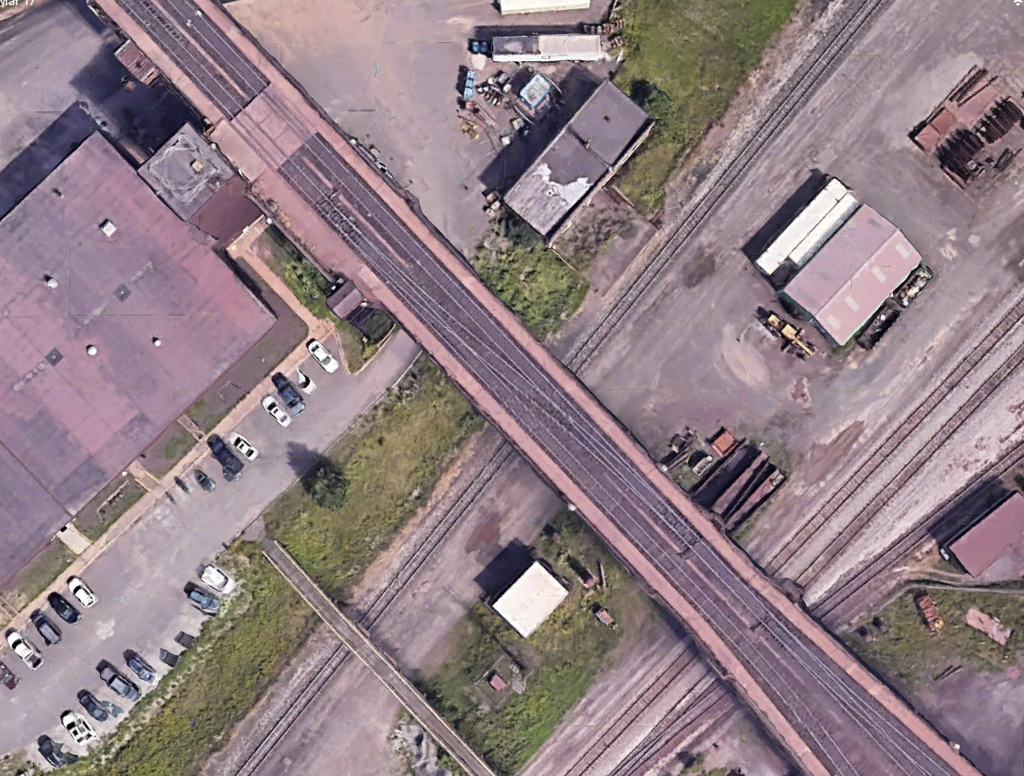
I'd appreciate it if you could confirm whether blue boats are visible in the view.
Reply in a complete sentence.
No, there isn't any blue boat down there.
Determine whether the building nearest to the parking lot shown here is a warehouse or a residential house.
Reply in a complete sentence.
The building nearest to the parking lot in the image is a residential house.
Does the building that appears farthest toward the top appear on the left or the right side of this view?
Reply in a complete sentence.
The building that appears farthest toward the top is on the left side of the image.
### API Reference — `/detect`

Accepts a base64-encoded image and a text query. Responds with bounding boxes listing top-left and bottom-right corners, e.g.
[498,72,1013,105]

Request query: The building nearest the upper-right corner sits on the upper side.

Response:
[778,204,924,347]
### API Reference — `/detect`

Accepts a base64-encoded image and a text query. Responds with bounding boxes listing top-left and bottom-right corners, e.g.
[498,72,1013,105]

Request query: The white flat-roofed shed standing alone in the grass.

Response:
[493,559,568,638]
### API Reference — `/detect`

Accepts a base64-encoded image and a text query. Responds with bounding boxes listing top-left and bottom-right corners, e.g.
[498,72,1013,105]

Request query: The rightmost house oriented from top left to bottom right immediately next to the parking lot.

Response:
[327,280,384,352]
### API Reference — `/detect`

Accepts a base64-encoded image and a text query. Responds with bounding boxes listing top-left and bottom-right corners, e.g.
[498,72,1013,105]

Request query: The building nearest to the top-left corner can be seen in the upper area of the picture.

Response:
[112,37,182,103]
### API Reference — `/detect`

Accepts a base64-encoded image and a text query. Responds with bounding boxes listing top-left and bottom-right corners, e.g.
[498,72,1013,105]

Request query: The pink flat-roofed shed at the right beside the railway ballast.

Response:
[941,487,1024,577]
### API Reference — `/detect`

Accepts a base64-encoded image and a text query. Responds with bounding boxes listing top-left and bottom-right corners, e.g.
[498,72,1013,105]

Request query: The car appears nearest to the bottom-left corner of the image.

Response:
[34,734,70,772]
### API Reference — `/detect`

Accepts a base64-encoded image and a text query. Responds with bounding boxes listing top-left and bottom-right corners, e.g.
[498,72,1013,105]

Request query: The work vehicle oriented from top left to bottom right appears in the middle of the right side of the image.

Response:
[764,305,820,359]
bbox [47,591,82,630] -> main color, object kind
black car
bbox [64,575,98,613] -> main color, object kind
white car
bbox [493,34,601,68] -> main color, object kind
white trailer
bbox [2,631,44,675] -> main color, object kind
white vehicle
